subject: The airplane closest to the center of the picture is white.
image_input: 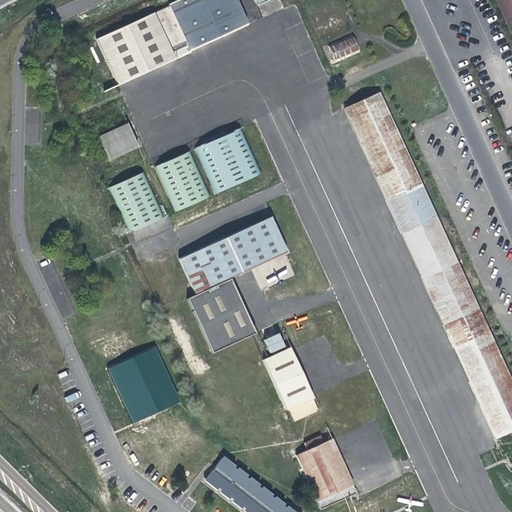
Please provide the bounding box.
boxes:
[266,270,288,284]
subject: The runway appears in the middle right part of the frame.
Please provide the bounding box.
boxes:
[281,107,506,512]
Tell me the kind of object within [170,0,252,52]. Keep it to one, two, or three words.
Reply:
hangar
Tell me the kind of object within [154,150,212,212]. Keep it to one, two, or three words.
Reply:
hangar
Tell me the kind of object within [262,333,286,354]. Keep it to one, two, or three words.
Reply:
shed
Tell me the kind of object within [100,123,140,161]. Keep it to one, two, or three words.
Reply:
building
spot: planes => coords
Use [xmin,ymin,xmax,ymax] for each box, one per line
[286,316,308,330]
[397,497,424,512]
[266,270,288,284]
